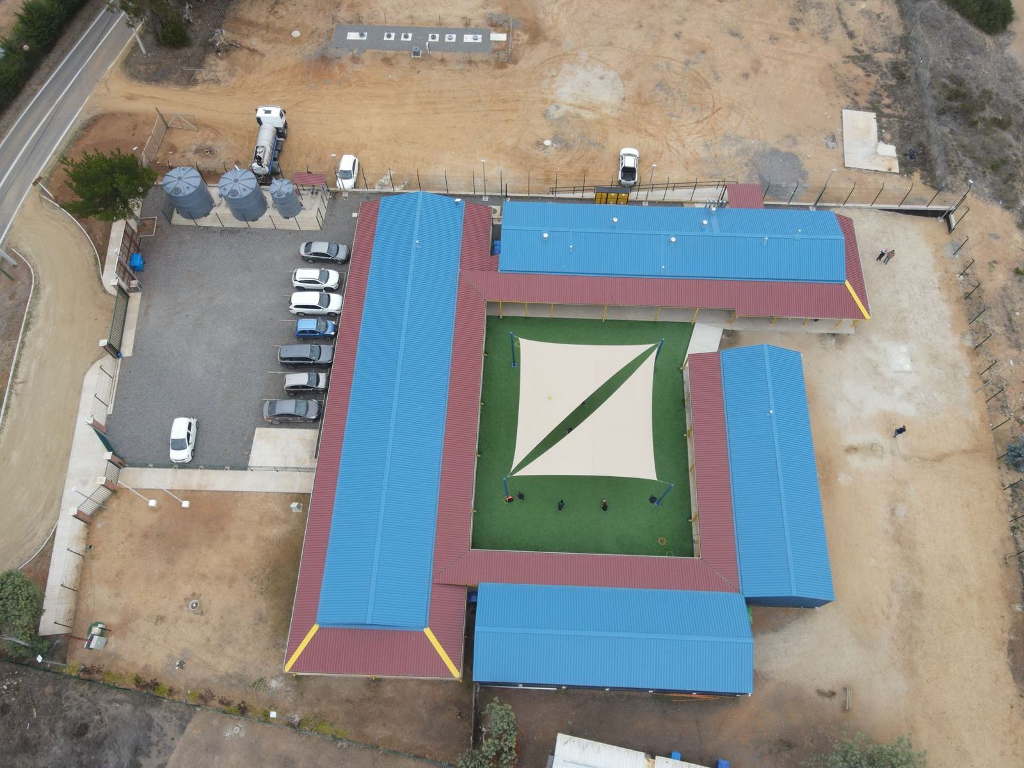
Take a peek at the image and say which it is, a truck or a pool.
truck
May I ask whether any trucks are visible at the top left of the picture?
Yes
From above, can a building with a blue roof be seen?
Yes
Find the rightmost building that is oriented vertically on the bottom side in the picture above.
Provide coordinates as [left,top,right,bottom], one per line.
[681,343,837,609]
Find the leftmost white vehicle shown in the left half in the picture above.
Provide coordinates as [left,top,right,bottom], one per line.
[166,417,201,465]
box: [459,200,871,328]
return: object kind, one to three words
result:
building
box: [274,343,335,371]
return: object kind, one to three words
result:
car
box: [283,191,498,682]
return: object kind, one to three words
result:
building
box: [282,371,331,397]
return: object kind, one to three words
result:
car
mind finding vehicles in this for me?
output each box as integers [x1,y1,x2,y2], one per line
[286,292,343,319]
[333,152,361,193]
[282,371,331,397]
[255,106,295,180]
[263,398,323,426]
[618,147,641,191]
[294,317,339,342]
[166,417,201,465]
[274,343,335,371]
[298,241,351,266]
[289,266,342,293]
